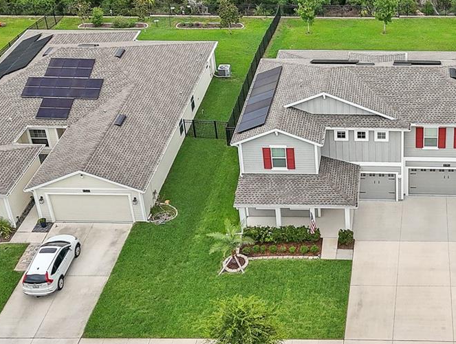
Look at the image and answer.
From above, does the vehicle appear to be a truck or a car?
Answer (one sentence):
I'd identify the vehicle as a car.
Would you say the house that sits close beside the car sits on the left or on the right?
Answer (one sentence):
The house that sits close beside the car sits on the left side.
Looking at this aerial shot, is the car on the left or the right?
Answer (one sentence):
The car is on the left side of the image.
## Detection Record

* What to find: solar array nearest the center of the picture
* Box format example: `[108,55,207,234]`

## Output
[237,63,281,131]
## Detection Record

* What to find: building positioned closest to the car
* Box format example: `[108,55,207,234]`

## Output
[0,30,217,226]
